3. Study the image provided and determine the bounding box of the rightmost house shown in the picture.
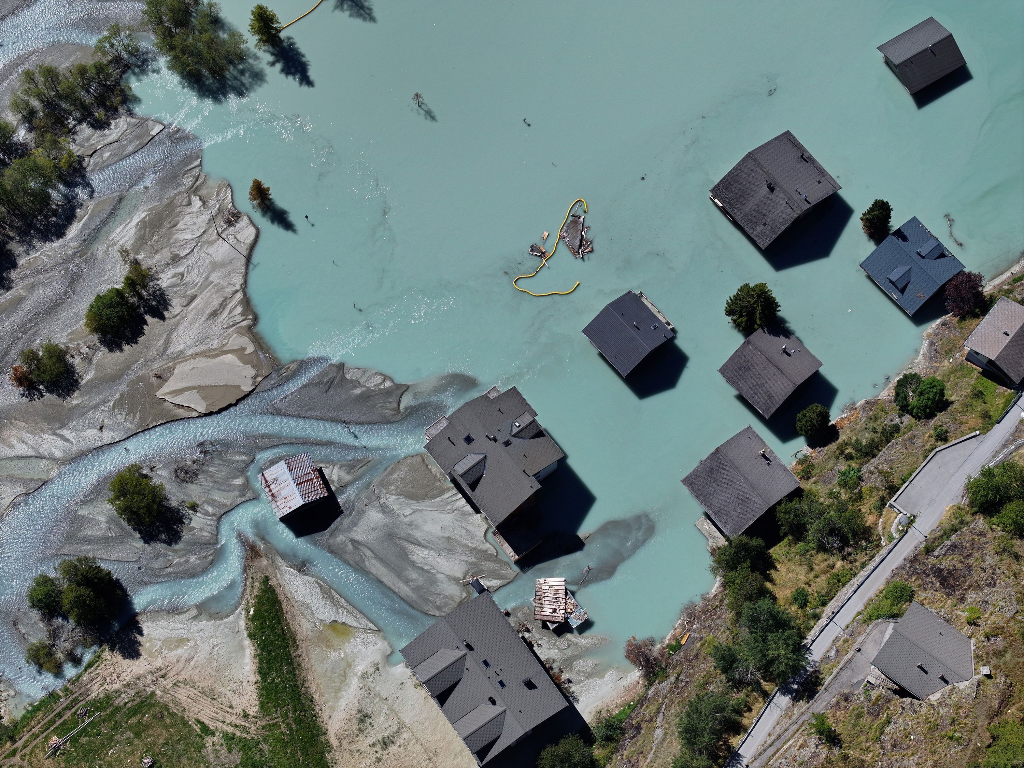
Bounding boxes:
[956,295,1024,389]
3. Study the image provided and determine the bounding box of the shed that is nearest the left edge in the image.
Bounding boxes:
[258,452,328,519]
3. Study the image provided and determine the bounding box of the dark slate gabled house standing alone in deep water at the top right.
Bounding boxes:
[876,16,967,96]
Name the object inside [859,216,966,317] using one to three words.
house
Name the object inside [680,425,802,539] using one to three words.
house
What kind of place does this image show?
residential area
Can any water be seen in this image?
Yes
